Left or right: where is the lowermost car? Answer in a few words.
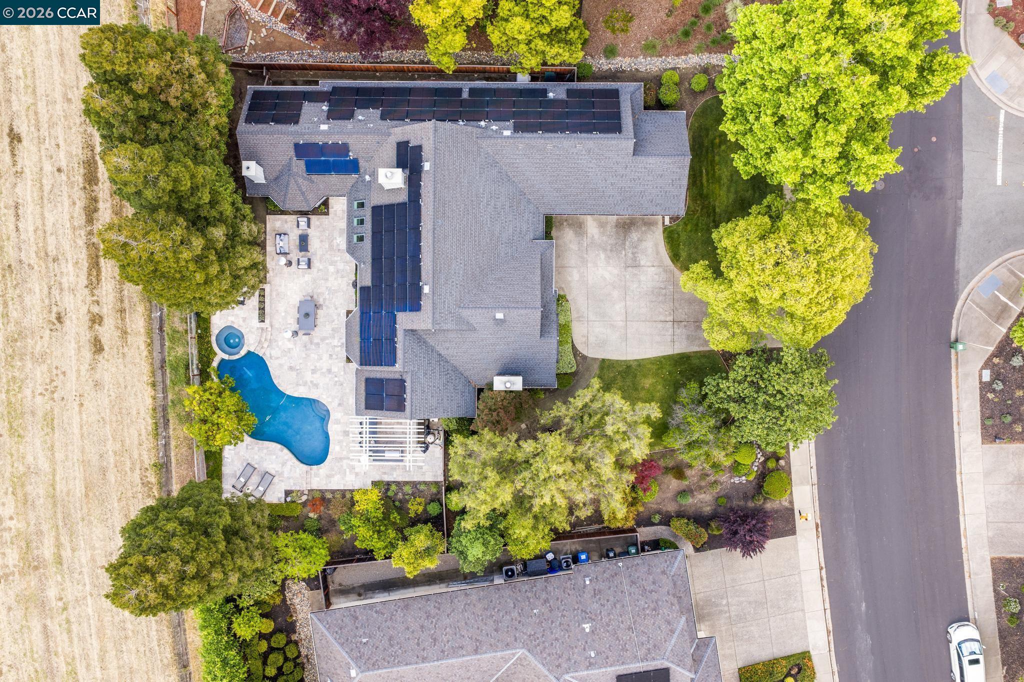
right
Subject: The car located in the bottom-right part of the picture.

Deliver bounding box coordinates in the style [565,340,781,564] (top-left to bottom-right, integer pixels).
[943,622,984,682]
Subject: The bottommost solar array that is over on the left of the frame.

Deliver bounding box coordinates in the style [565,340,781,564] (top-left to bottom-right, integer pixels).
[365,379,408,414]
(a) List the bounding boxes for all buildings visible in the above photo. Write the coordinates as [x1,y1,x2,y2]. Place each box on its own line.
[309,544,725,682]
[236,79,691,420]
